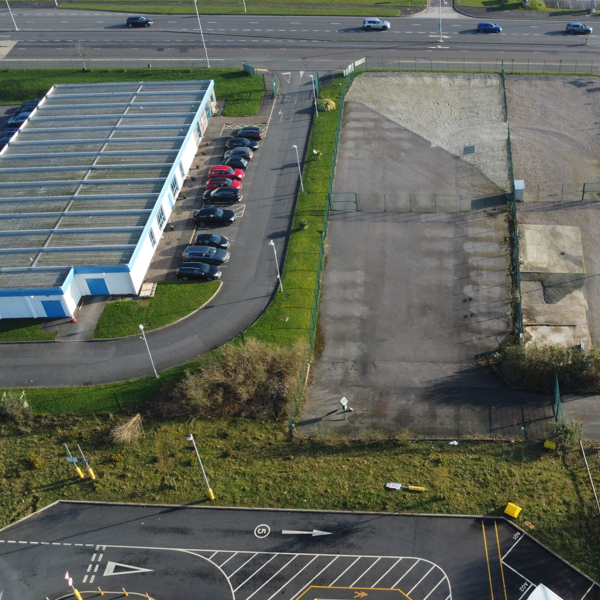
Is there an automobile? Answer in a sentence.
Yes, there is an automobile in the image.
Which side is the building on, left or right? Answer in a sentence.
It is on the left.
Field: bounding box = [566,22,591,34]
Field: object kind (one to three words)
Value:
vehicle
